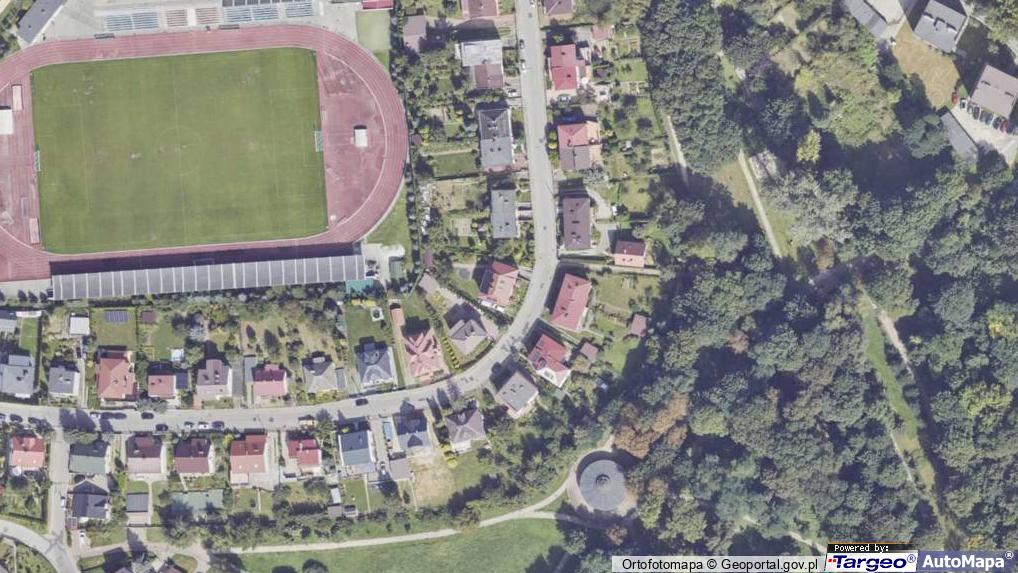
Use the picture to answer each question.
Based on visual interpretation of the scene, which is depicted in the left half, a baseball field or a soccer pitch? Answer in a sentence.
You can see a soccer pitch in the left half.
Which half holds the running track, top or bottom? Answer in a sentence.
Seen from above, the running track lies in the top half of the view.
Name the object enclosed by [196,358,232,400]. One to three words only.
house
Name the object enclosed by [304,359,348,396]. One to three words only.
house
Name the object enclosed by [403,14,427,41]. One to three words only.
building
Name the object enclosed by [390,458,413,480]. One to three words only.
building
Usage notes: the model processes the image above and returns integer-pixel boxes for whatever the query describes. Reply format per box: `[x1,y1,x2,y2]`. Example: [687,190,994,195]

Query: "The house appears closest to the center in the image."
[482,261,522,305]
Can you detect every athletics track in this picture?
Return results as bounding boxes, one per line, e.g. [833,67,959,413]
[0,24,412,282]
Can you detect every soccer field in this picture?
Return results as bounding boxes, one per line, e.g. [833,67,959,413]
[32,49,328,252]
